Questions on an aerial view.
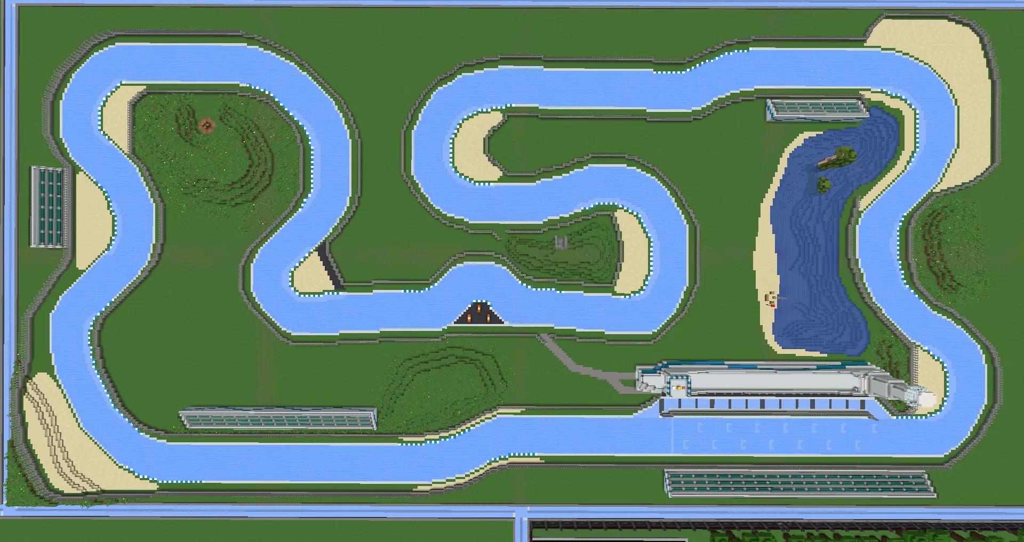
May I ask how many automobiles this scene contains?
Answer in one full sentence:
There are no automobiles in this view.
